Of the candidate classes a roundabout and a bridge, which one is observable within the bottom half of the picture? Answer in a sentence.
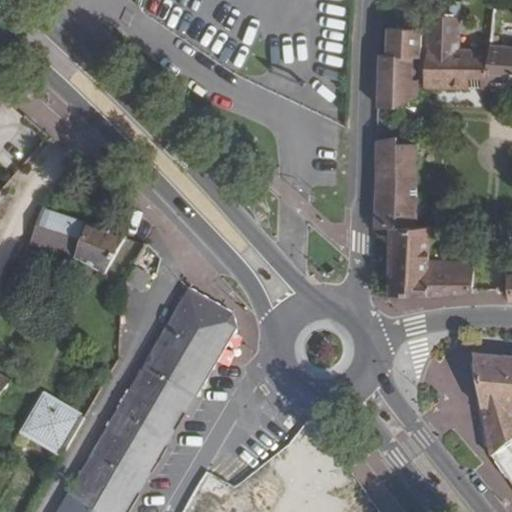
Looking within the bottom half of the picture, you will find a roundabout.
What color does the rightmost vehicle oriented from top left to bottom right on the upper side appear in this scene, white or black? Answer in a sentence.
The color of the rightmost vehicle oriented from top left to bottom right on the upper side is white.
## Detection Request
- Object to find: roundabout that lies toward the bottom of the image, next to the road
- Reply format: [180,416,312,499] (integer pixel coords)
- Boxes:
[294,319,354,379]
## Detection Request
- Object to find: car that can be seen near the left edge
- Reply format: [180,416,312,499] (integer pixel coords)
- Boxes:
[2,140,22,158]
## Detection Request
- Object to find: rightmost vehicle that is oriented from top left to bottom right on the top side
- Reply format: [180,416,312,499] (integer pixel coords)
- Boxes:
[312,80,336,102]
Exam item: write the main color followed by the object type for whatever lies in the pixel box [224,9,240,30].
white car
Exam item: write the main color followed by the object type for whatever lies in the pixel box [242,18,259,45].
white vehicle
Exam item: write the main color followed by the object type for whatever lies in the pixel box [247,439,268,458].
white car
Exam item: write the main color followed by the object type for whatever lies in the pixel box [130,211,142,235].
white vehicle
